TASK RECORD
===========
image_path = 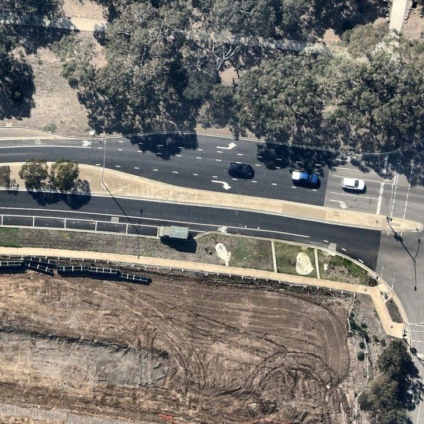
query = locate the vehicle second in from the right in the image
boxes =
[290,170,321,185]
